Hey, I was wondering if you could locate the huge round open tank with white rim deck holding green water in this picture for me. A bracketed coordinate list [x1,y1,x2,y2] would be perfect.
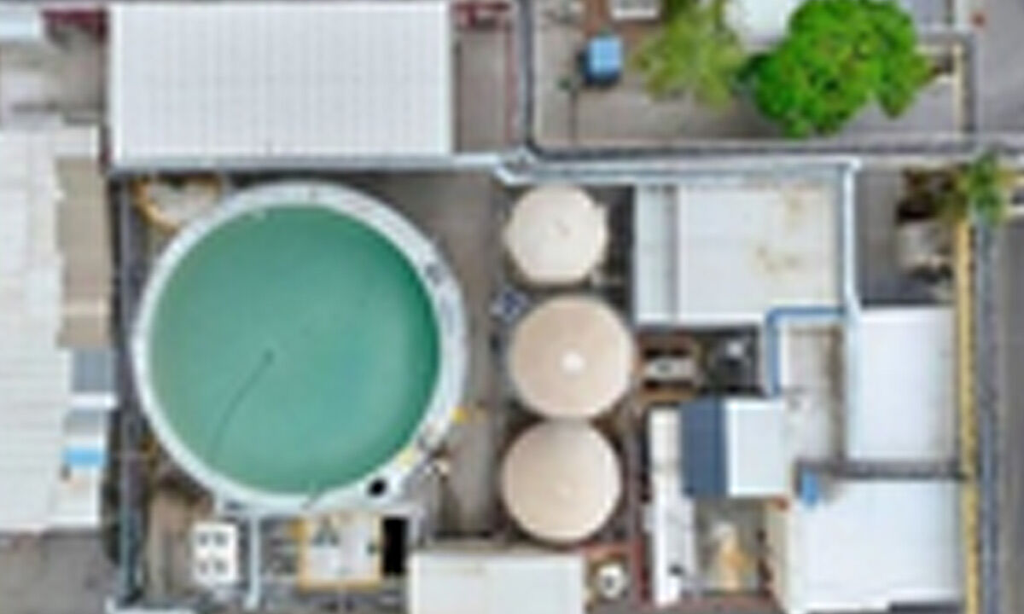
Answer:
[135,182,466,514]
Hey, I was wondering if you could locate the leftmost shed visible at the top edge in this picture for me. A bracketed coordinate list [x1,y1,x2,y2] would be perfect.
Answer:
[0,10,58,47]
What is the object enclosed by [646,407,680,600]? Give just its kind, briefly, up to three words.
building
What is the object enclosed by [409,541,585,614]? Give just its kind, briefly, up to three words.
shed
